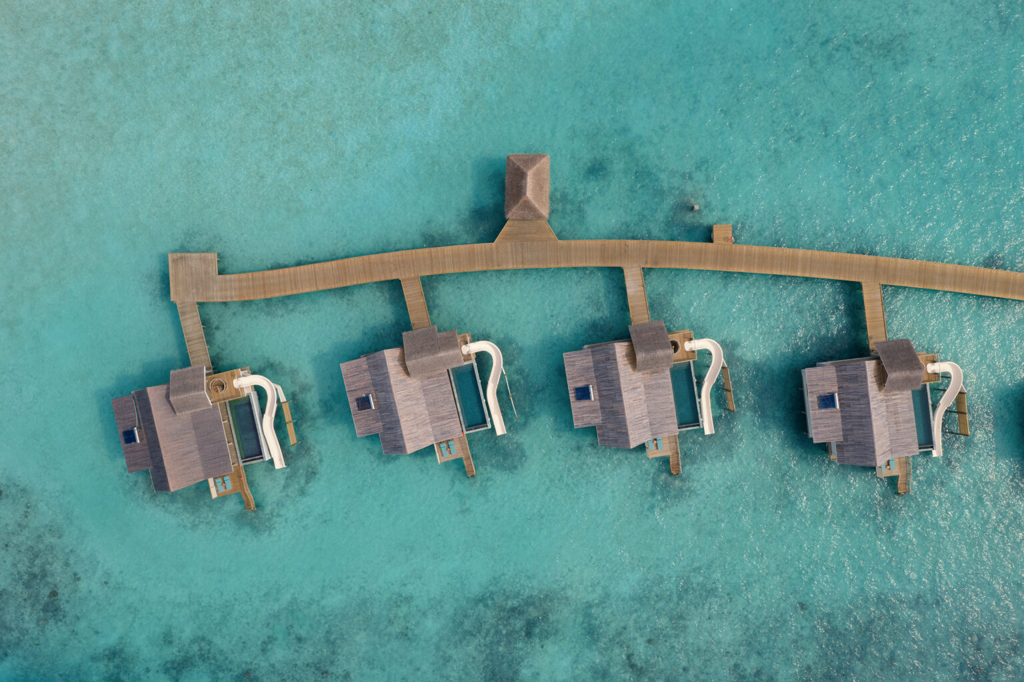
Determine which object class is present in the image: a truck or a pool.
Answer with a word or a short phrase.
pool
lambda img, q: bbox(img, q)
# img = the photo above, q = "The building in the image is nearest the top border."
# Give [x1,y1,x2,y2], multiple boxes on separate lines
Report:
[505,153,551,221]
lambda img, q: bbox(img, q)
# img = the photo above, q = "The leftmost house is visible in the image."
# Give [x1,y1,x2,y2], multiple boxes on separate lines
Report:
[111,364,271,510]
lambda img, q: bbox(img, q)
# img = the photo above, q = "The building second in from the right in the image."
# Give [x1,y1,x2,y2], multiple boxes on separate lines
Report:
[563,319,697,474]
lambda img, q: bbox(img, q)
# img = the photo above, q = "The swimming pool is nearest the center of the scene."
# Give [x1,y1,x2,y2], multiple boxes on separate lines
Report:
[450,361,490,433]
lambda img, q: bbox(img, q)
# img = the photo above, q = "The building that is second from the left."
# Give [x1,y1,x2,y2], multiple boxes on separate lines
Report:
[340,324,478,476]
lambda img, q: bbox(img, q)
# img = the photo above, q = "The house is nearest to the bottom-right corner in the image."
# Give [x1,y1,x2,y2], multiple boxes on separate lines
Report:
[795,339,941,495]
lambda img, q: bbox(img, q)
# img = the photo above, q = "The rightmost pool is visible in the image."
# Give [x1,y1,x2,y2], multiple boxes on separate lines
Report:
[913,384,935,450]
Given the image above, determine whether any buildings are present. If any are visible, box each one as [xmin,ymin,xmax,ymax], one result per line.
[563,319,697,474]
[795,339,941,495]
[340,324,478,476]
[111,364,271,510]
[505,153,551,221]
